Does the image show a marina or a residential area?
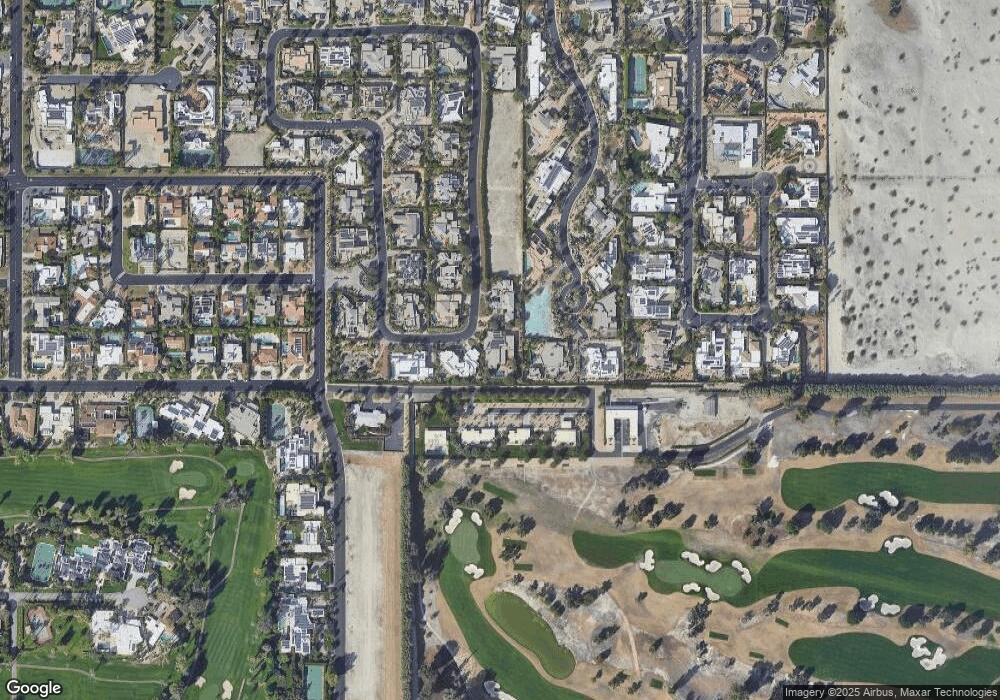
residential area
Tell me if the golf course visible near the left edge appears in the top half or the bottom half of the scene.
bottom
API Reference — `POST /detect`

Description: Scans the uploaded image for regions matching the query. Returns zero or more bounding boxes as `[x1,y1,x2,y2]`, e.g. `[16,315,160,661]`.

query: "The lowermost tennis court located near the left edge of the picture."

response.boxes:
[30,543,57,582]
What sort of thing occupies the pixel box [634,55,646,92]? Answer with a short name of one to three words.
tennis court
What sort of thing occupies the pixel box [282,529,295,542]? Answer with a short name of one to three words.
swimming pool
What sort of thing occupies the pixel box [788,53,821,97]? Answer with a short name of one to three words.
house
